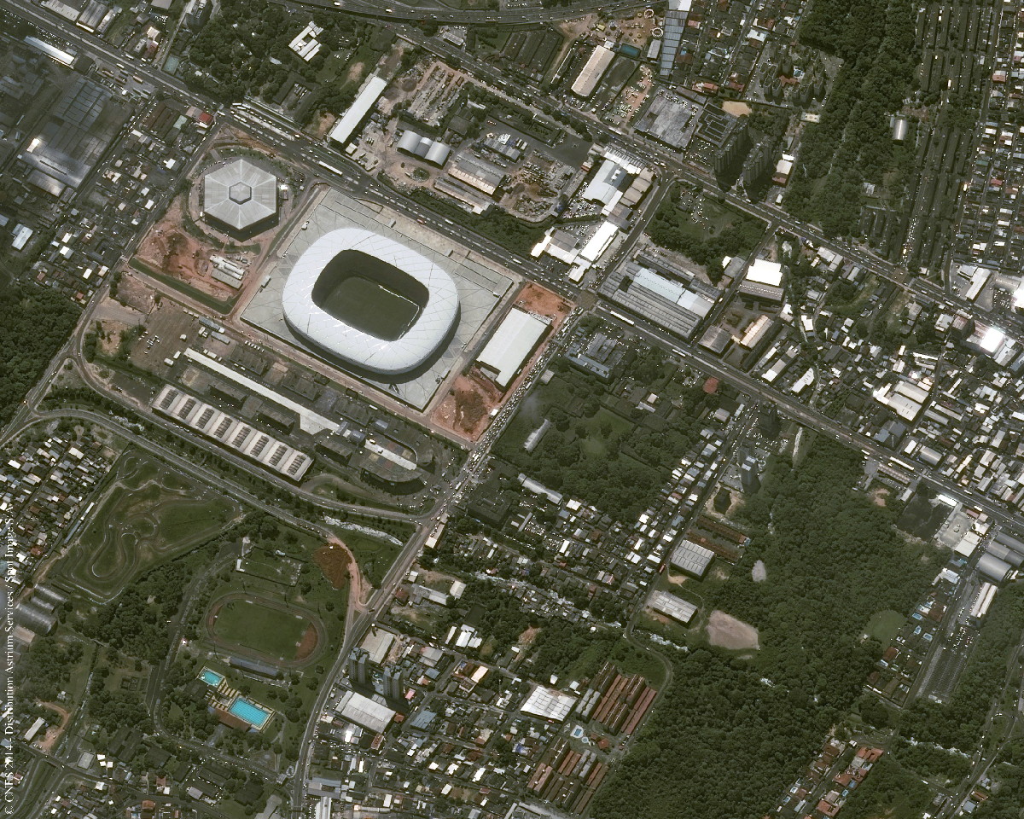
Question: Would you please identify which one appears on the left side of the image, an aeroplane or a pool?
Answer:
pool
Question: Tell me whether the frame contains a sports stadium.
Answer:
Yes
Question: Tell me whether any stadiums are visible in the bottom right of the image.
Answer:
No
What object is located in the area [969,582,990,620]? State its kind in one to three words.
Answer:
shed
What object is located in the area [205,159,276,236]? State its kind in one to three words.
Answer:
stadium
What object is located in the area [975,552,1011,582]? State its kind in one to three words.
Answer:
building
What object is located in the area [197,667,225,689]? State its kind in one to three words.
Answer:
swimming pool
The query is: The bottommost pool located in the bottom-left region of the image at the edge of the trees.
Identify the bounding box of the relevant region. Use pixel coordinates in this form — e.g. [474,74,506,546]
[226,695,276,731]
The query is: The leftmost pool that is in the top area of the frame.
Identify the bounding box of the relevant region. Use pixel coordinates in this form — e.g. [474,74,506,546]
[620,44,641,58]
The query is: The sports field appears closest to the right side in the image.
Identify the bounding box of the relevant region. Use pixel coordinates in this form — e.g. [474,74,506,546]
[326,275,419,340]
